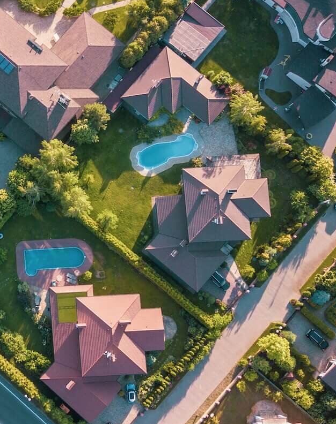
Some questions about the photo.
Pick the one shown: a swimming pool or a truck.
swimming pool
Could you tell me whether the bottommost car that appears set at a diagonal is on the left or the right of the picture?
right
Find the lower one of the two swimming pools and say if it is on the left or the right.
left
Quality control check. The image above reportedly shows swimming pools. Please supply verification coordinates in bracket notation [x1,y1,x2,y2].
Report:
[23,246,88,277]
[136,132,199,171]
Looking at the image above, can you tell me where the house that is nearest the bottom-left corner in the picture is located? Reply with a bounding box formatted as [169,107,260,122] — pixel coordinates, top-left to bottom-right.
[39,284,164,422]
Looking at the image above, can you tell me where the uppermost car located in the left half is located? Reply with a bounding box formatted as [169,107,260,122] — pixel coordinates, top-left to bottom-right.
[125,383,137,404]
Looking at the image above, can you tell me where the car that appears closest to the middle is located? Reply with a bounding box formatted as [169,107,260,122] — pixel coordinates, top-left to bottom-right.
[209,268,232,292]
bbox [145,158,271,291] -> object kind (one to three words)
house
